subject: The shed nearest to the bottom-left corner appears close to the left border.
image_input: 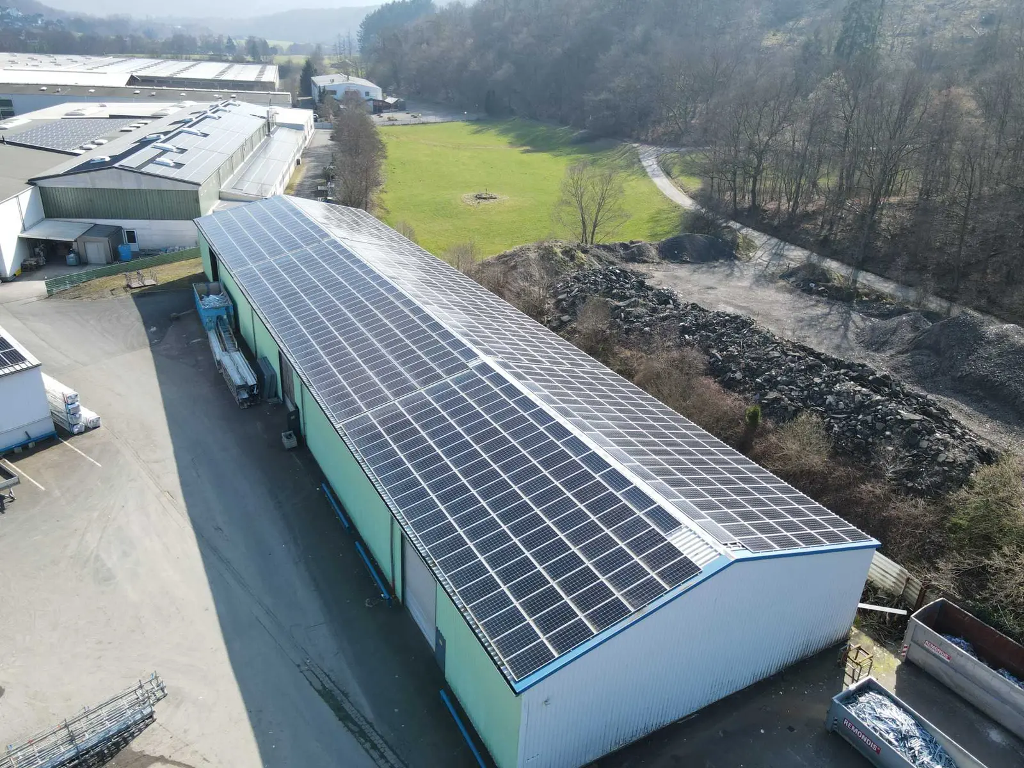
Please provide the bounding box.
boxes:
[0,333,55,447]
